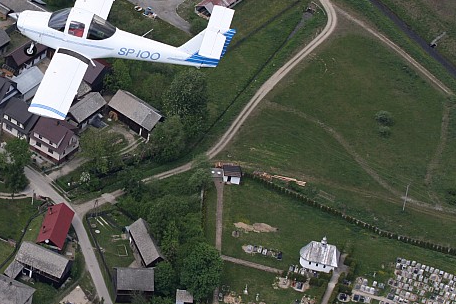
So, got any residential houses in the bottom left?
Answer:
Yes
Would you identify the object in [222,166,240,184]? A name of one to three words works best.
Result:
shed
